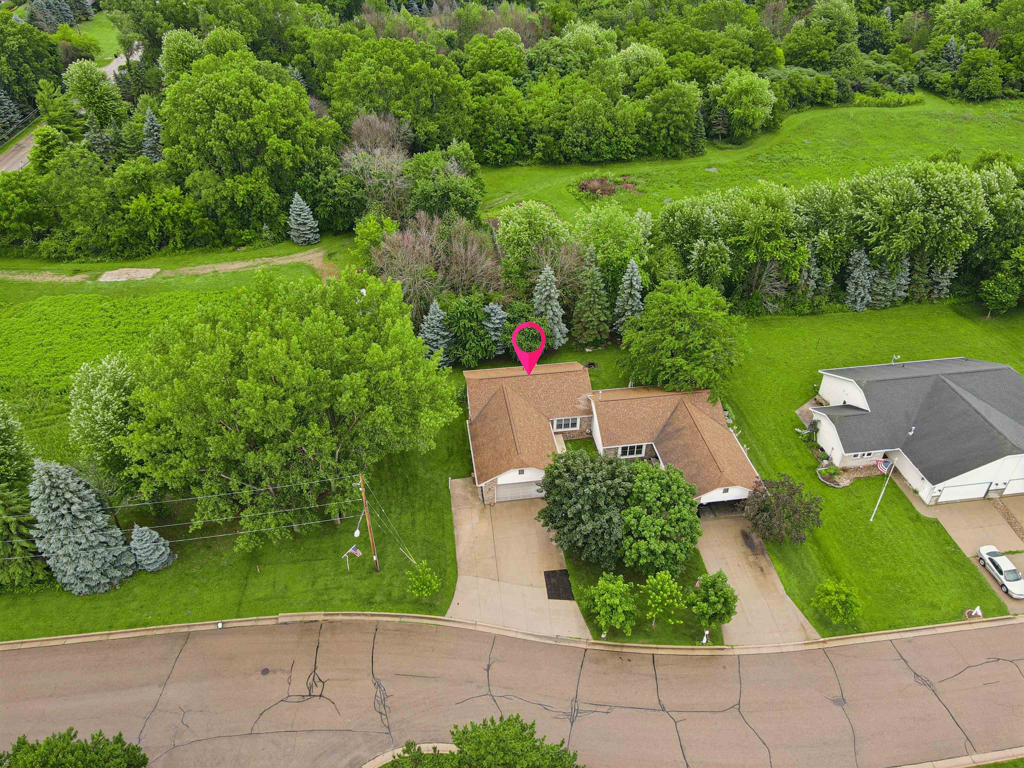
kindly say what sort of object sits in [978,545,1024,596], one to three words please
car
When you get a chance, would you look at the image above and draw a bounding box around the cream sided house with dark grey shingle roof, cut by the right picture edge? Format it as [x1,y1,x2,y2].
[809,357,1024,506]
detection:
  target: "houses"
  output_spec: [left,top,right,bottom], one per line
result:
[463,362,769,527]
[809,357,1024,506]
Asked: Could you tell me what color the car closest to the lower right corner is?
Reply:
white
